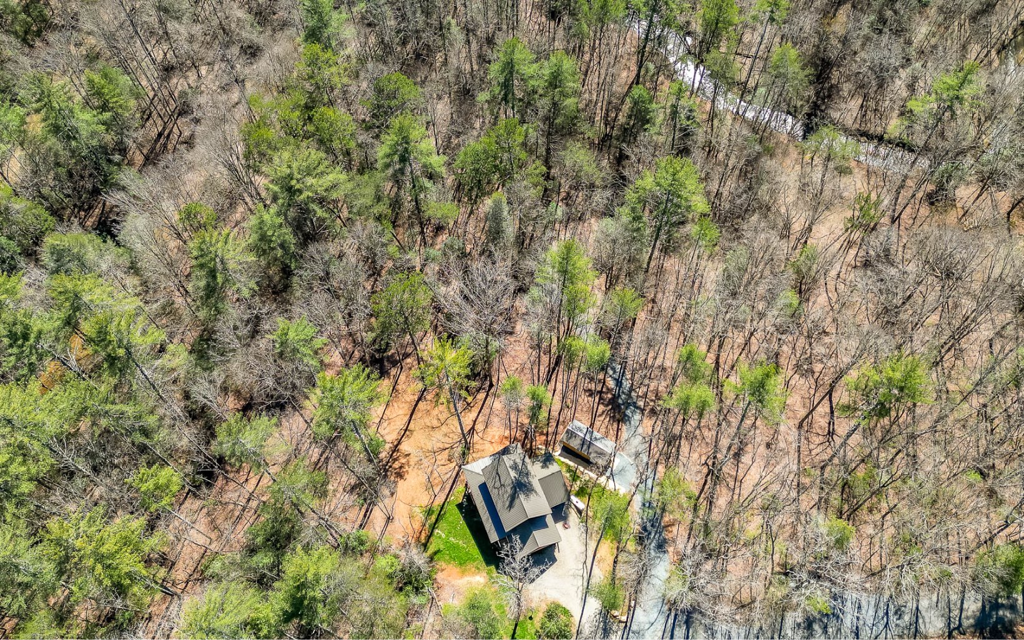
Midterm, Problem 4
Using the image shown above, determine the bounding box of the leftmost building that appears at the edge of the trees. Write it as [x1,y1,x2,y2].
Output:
[462,444,571,563]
